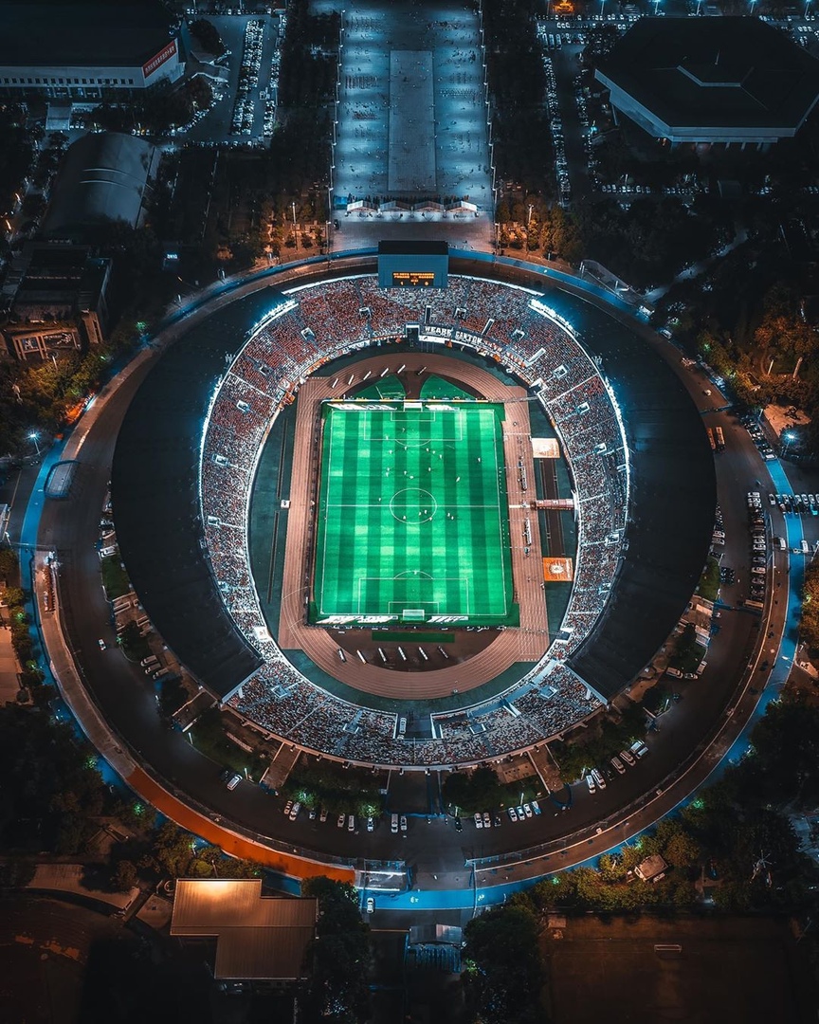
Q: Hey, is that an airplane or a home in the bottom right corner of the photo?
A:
home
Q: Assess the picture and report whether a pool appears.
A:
No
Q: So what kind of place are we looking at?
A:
sports ground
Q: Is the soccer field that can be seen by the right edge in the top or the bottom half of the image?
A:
bottom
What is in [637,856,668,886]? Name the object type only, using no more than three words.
house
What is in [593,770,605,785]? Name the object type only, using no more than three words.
vehicle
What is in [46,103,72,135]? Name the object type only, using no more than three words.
building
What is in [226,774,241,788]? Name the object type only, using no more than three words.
vehicle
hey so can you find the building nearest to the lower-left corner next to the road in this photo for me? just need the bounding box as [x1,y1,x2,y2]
[170,878,319,991]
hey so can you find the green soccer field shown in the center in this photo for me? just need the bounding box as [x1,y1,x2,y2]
[308,399,519,626]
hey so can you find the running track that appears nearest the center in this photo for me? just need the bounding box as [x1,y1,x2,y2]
[278,353,549,696]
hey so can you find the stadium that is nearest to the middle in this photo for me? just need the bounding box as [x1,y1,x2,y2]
[112,276,716,775]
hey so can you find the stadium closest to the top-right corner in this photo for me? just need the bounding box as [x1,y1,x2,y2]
[594,17,819,152]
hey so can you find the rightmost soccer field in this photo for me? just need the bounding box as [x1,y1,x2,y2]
[545,916,819,1024]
